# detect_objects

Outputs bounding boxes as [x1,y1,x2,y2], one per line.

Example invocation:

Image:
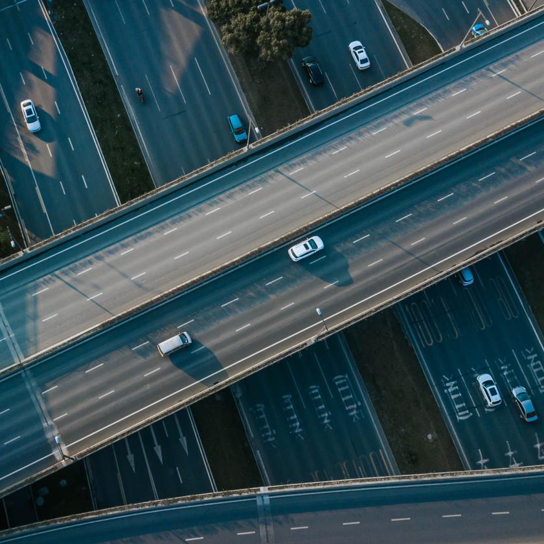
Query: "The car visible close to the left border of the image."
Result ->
[21,99,42,131]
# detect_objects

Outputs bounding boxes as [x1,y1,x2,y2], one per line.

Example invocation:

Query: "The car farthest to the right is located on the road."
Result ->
[511,386,539,425]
